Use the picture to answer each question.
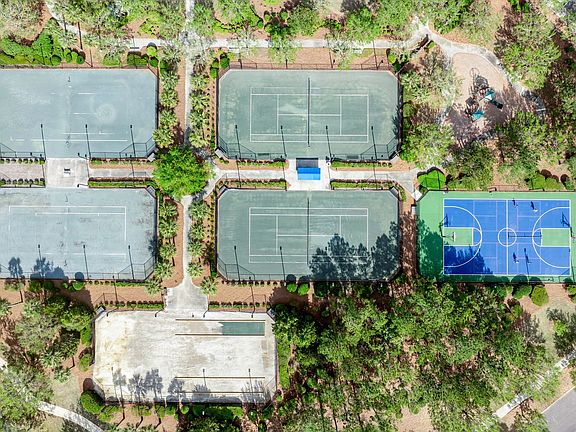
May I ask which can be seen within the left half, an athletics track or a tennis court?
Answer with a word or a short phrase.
tennis court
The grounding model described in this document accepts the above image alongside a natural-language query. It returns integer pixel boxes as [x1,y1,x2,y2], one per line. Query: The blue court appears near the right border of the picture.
[420,192,576,281]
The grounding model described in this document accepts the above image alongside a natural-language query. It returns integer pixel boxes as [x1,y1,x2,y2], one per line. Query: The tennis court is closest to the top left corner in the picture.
[0,69,158,159]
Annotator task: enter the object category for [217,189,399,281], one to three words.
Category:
tennis court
